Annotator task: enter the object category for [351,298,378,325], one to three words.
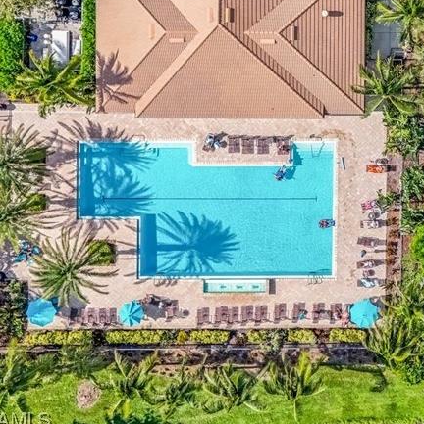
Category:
umbrella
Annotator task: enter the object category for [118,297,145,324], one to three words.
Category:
umbrella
